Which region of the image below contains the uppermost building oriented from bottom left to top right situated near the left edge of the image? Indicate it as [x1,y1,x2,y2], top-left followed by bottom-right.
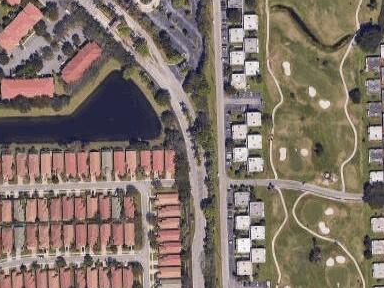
[0,2,44,54]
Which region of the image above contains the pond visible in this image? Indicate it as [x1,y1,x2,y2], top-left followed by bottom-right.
[0,71,160,144]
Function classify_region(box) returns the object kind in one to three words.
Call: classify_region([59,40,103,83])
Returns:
building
